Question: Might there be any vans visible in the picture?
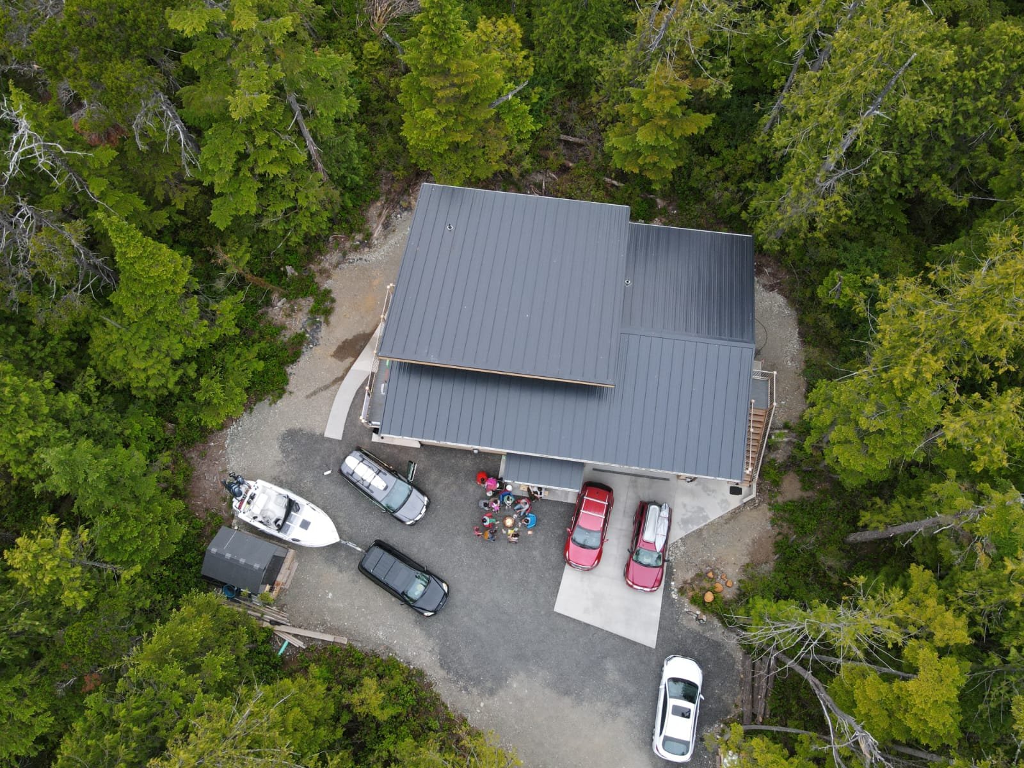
Yes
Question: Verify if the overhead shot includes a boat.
Yes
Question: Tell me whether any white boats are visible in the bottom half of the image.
Yes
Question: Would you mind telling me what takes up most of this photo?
trees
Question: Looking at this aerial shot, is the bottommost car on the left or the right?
right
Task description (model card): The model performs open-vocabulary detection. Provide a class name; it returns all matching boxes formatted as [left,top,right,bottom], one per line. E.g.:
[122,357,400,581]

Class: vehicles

[622,499,670,596]
[649,654,705,764]
[561,480,616,574]
[355,536,452,618]
[337,448,431,526]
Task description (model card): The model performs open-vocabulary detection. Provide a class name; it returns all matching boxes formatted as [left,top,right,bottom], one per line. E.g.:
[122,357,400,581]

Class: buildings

[204,525,290,594]
[379,183,762,498]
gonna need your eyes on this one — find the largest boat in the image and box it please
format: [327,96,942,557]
[227,473,339,549]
